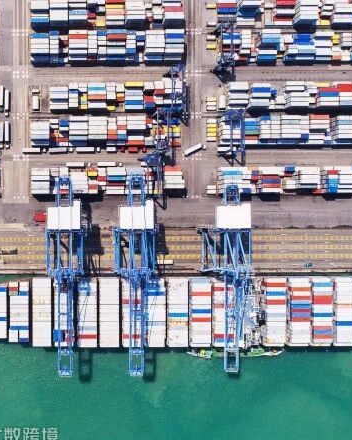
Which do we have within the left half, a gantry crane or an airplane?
gantry crane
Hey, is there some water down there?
Yes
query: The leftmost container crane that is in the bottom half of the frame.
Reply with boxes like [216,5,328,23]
[45,173,107,378]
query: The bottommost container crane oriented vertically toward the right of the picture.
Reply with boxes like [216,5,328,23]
[202,185,266,376]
